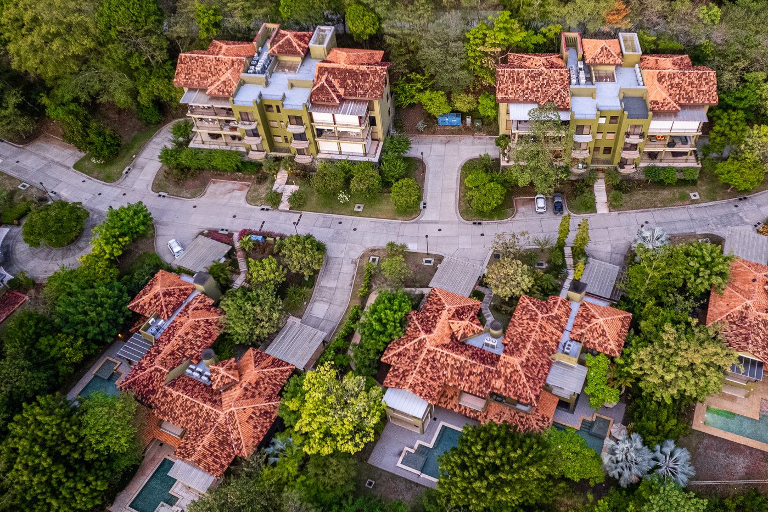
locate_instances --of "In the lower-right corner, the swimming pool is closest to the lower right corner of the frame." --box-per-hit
[693,401,768,452]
